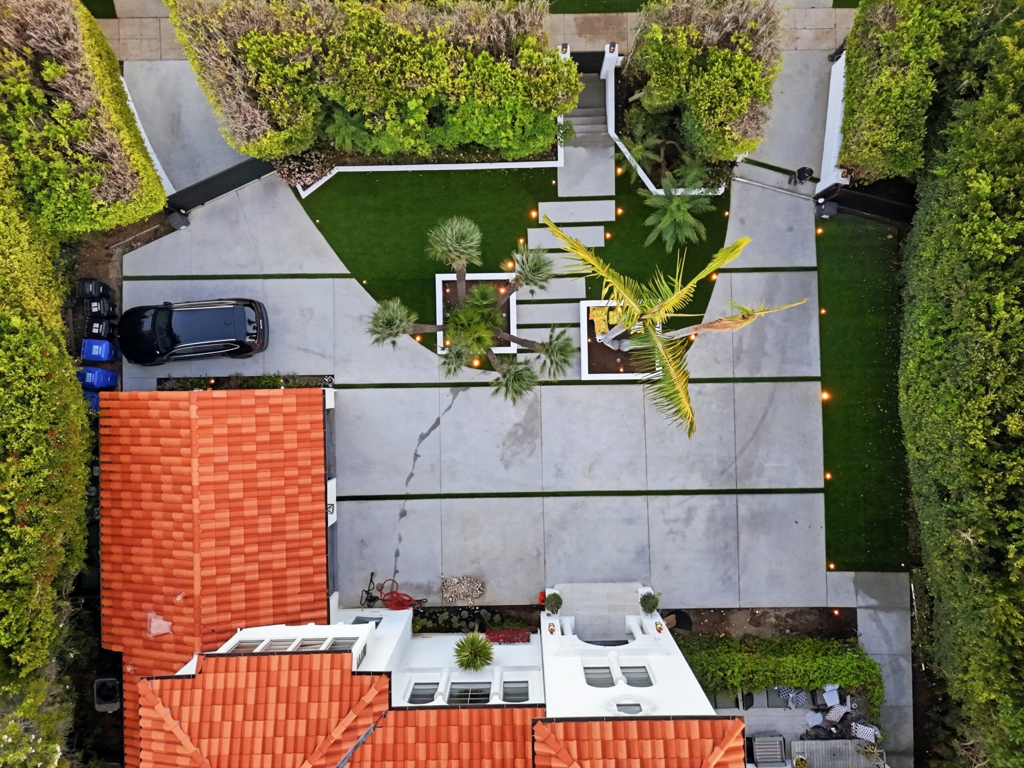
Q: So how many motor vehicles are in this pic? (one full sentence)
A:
The picture shows just 1 motor vehicle.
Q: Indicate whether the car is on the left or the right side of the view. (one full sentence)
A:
It is on the left.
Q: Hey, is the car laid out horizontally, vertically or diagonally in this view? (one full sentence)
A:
The car is oriented horizontally.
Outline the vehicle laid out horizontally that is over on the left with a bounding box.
[118,298,271,369]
